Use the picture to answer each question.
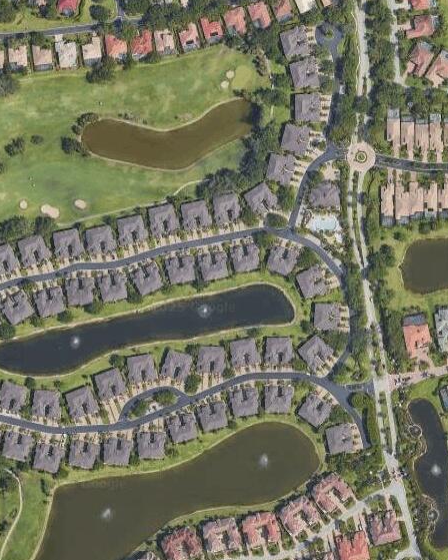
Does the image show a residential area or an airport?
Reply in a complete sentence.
This looks like a residential area.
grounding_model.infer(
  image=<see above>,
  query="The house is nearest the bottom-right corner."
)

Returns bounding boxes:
[367,512,401,545]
